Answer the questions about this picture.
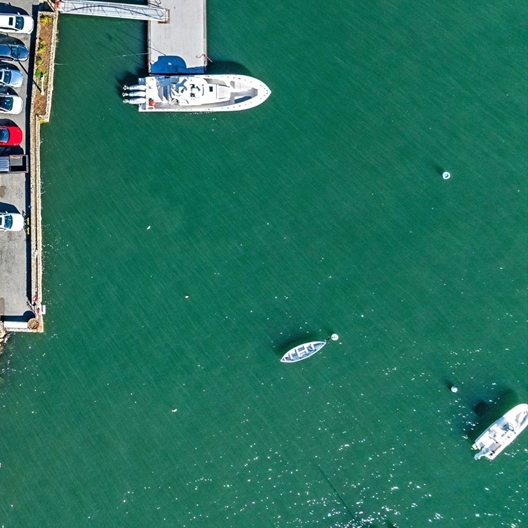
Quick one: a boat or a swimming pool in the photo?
boat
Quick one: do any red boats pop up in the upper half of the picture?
No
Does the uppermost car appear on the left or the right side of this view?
left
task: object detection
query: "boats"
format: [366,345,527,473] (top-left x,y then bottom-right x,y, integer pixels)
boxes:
[475,400,528,461]
[121,64,272,110]
[280,341,328,363]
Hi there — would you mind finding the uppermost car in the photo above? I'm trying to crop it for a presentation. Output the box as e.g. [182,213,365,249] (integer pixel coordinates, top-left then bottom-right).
[0,12,34,35]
